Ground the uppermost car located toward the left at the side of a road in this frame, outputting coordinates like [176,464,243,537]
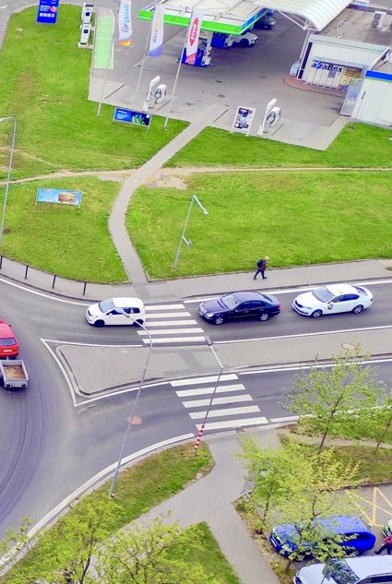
[88,294,149,327]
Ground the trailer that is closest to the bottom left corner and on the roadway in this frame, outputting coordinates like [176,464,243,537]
[0,357,31,387]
